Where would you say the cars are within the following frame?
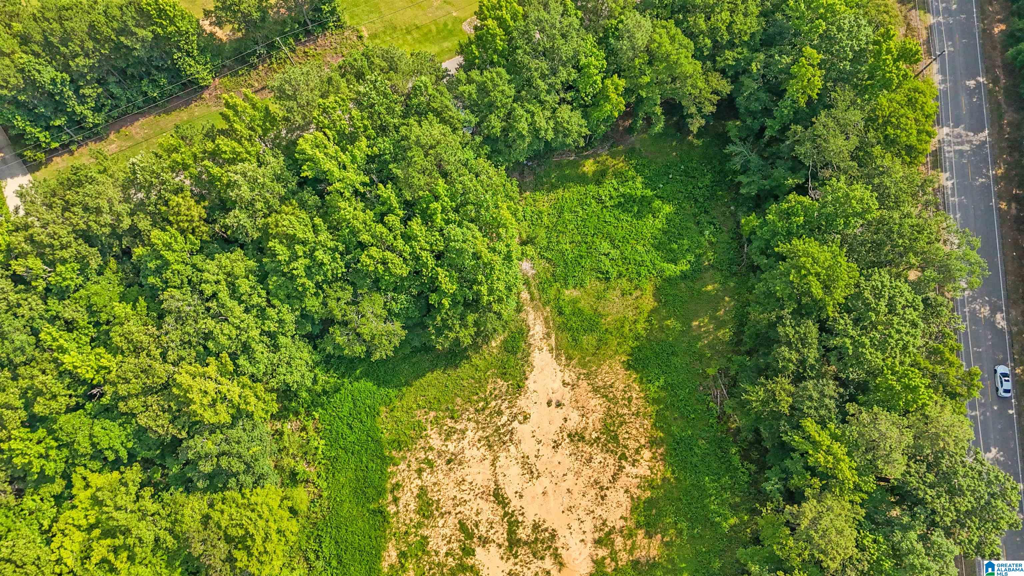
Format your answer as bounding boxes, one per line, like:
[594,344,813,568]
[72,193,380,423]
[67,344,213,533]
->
[992,365,1010,398]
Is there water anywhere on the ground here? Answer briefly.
No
